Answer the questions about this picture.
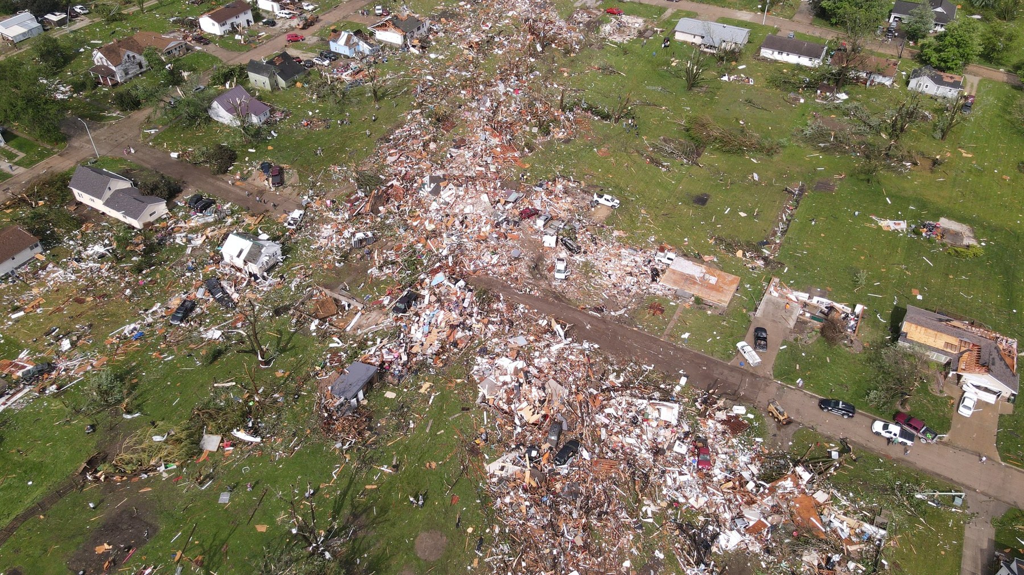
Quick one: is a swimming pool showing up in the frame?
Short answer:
No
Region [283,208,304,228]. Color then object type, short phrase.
white vehicle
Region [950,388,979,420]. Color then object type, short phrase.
white car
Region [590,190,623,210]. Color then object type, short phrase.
white vehicle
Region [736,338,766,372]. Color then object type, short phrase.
white truck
